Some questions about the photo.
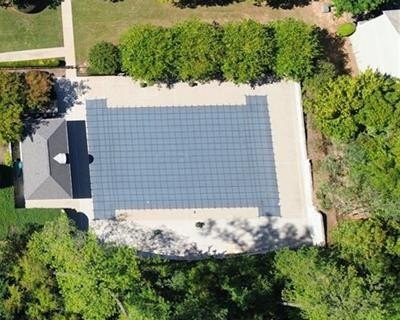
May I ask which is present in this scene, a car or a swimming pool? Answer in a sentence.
It is a swimming pool that can be seen here.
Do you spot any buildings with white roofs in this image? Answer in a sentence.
Yes, there's a building with a white roof here.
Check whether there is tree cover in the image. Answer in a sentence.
Yes, tree cover shows up in the scene.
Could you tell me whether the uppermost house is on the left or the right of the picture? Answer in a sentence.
You can find the uppermost house on the right side of the picture.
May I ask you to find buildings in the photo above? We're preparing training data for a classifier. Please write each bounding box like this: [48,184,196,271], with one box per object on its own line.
[20,118,73,200]
[340,8,400,82]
